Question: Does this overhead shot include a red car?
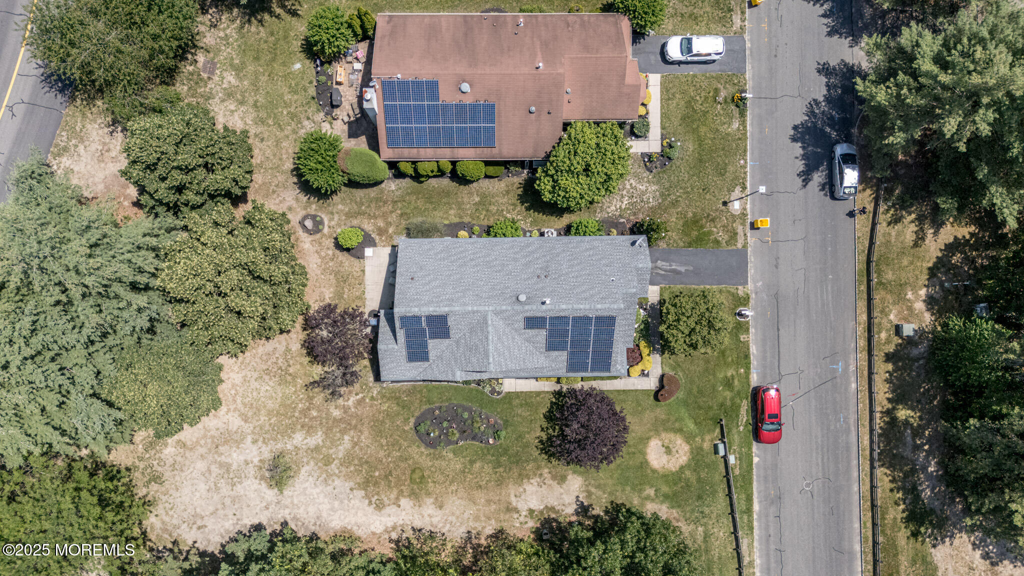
Yes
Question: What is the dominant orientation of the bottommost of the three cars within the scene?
from top to bottom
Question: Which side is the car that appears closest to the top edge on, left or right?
right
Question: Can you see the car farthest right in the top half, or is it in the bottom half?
top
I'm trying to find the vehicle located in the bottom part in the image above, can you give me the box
[754,385,786,444]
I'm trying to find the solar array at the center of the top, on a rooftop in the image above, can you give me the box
[382,78,496,147]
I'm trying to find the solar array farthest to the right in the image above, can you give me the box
[524,314,616,373]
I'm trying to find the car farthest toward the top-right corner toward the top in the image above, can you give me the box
[829,144,860,200]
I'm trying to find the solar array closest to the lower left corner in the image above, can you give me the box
[399,314,450,362]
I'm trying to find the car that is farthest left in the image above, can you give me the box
[664,31,726,63]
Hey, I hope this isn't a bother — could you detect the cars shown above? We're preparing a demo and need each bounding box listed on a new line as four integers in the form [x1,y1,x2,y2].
[829,144,860,200]
[754,385,786,444]
[664,31,726,63]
